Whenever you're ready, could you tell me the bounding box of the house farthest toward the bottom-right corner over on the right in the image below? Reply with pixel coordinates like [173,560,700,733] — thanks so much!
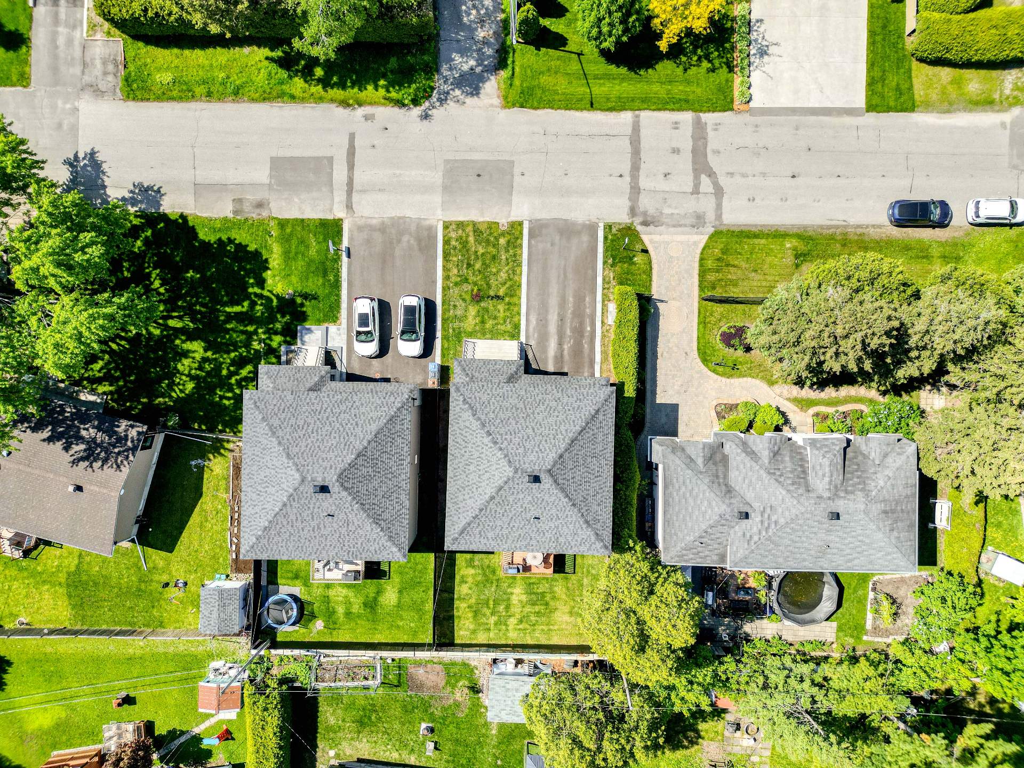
[647,430,918,573]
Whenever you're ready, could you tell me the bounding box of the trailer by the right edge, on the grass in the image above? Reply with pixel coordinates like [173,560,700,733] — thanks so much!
[979,547,1024,585]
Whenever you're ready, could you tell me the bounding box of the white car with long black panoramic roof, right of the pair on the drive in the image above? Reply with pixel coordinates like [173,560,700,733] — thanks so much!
[394,293,426,358]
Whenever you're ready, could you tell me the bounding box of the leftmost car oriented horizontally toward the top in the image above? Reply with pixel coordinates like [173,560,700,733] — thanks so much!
[883,195,951,228]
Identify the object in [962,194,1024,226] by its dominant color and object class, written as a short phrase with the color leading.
white car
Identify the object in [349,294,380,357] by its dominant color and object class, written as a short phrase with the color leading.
white car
